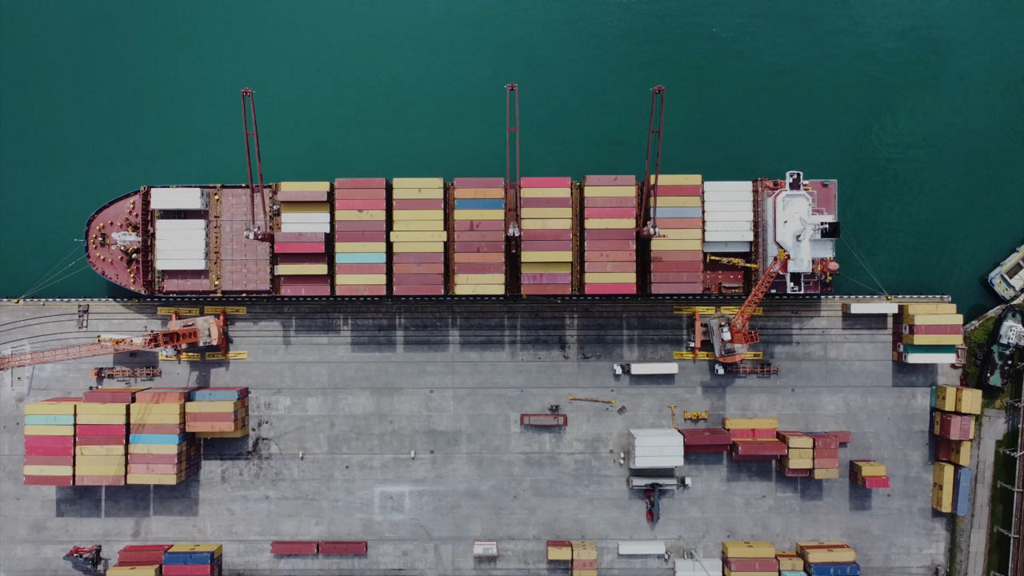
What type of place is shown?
port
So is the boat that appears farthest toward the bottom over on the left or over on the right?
right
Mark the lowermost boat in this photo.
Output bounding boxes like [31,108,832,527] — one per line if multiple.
[981,305,1024,389]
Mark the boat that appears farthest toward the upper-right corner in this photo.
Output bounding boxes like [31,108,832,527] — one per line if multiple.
[988,243,1024,299]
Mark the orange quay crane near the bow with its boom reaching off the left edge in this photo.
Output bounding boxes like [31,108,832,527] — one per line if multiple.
[0,307,249,369]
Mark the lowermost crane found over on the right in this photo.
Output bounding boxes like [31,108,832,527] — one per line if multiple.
[672,250,788,364]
